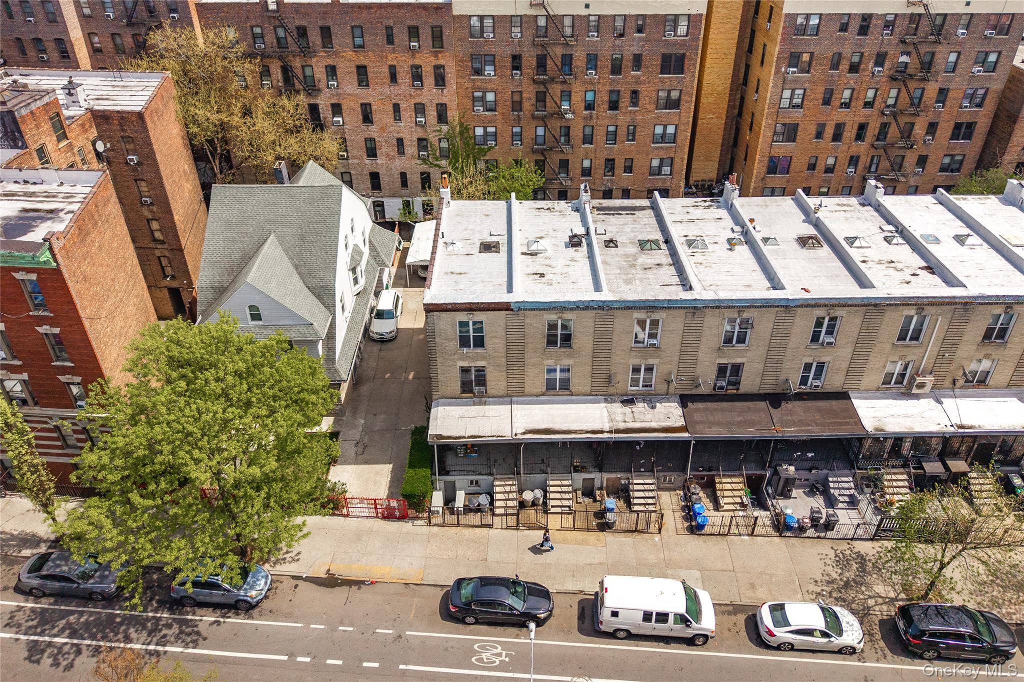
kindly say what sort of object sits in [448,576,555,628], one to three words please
car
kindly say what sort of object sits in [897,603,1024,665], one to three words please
car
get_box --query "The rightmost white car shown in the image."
[759,602,871,655]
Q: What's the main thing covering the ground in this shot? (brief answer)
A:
buildings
